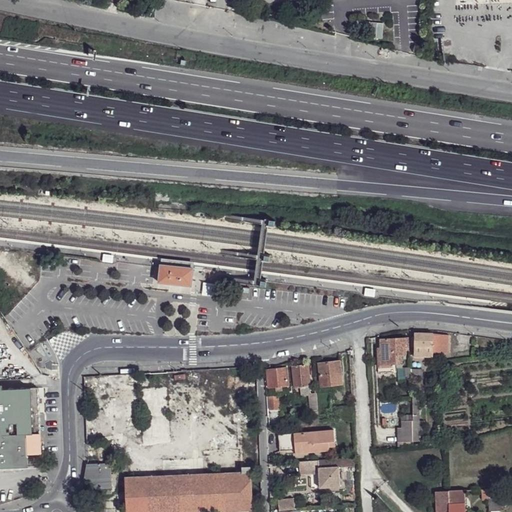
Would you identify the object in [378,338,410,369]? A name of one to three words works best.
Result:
house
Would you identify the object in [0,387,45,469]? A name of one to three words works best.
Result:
building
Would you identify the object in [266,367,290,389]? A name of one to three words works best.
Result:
house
